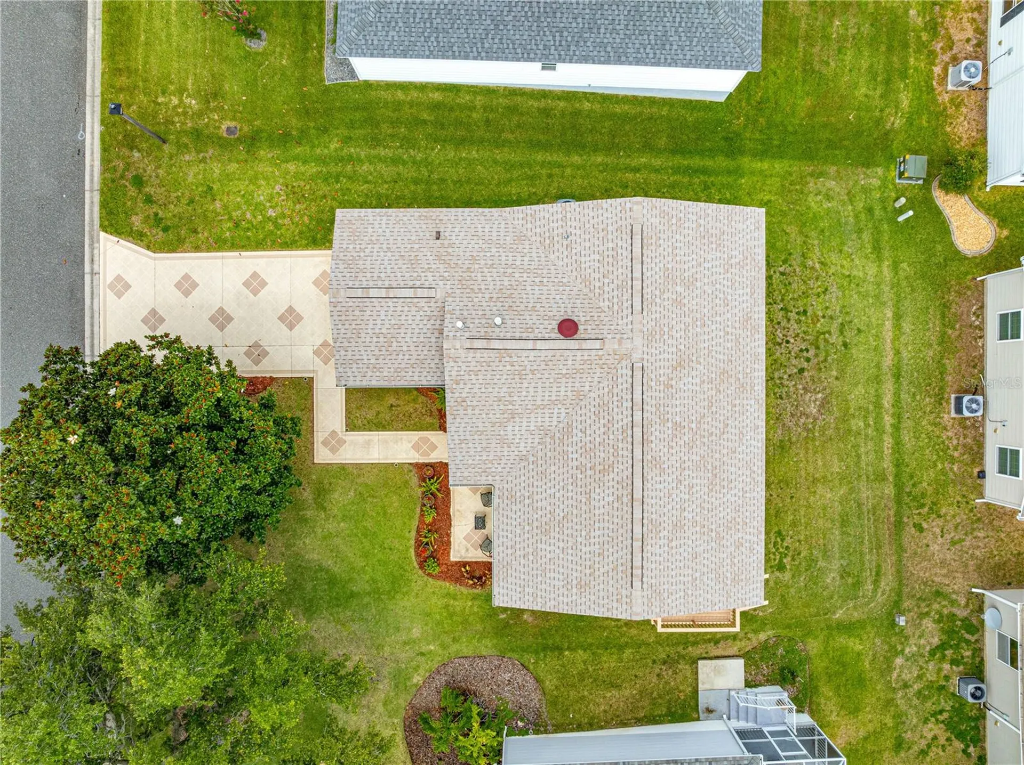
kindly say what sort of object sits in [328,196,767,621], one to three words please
house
